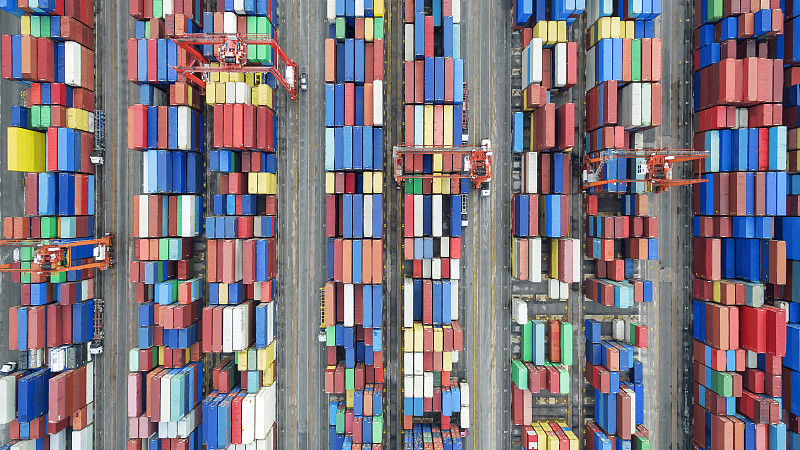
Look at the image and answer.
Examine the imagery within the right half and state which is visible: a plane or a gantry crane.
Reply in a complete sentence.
The one visible within the right half is a gantry crane.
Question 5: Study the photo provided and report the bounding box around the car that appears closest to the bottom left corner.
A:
[1,359,19,373]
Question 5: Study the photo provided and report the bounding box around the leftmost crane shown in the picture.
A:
[0,233,115,277]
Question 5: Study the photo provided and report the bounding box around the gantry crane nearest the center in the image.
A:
[396,141,495,194]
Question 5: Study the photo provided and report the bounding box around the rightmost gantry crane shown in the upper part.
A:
[578,145,715,197]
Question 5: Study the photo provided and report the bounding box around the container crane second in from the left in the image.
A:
[170,31,298,102]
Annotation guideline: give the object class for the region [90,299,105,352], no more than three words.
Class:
vehicle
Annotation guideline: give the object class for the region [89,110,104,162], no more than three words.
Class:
vehicle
